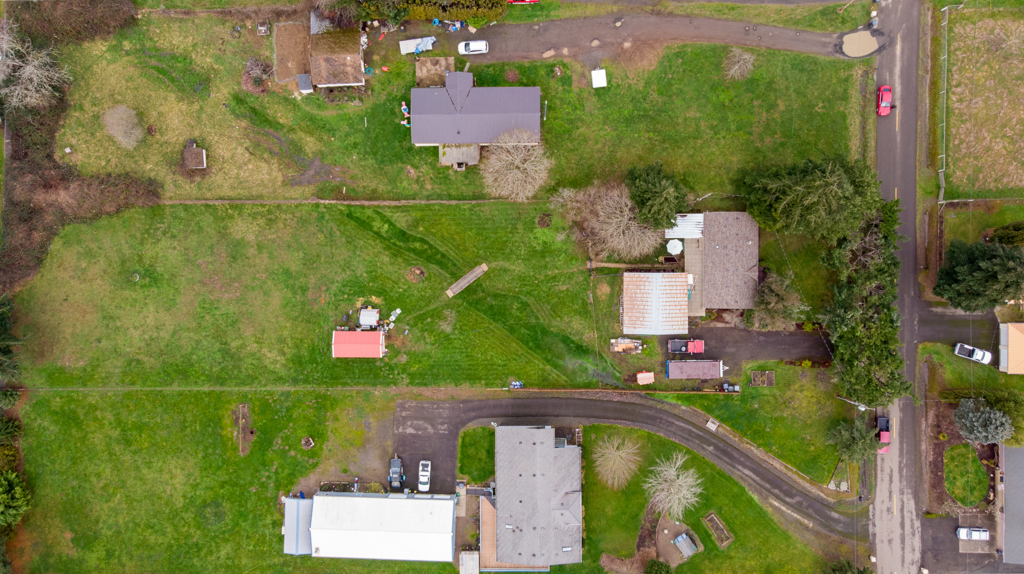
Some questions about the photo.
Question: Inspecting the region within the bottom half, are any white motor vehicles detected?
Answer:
Yes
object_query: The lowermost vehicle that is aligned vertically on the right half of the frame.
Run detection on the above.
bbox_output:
[874,418,891,454]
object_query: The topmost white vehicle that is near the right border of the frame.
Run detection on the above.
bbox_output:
[953,343,992,363]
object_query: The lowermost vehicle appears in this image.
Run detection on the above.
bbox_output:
[957,526,992,542]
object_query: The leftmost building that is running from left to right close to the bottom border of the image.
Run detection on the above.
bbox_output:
[309,490,455,562]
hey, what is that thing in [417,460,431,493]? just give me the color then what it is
white vehicle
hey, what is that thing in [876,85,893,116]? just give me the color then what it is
red car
